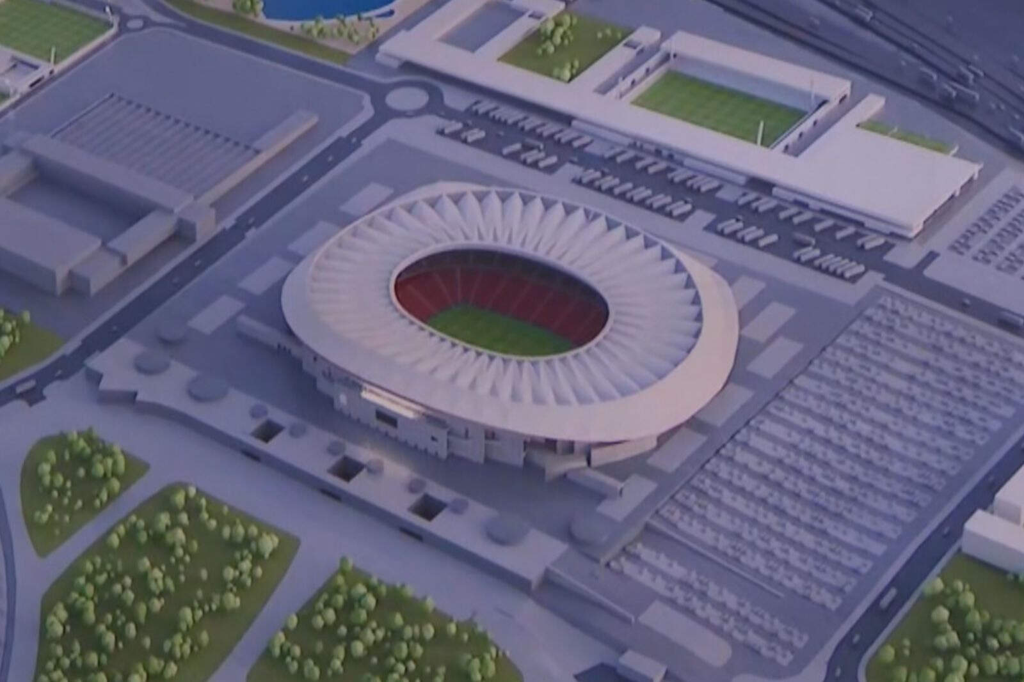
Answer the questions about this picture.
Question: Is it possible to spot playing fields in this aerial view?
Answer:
Yes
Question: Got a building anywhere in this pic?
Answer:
Yes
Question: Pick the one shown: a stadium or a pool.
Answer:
stadium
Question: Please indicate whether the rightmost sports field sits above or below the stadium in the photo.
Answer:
above it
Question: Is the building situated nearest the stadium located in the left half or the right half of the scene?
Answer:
left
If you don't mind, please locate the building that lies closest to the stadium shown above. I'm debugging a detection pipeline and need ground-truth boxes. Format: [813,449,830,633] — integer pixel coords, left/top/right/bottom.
[84,337,568,595]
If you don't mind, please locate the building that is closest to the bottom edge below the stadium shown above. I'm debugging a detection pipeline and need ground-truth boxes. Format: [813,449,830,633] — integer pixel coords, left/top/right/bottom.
[618,650,666,682]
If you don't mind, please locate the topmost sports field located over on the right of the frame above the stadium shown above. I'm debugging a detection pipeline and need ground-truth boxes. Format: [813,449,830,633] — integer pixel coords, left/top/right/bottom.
[617,30,851,154]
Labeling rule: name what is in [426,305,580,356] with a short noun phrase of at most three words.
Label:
sports field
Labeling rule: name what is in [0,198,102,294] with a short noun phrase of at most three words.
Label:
building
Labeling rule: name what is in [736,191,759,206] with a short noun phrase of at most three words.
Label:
vehicle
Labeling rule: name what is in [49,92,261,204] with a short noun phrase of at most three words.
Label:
building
